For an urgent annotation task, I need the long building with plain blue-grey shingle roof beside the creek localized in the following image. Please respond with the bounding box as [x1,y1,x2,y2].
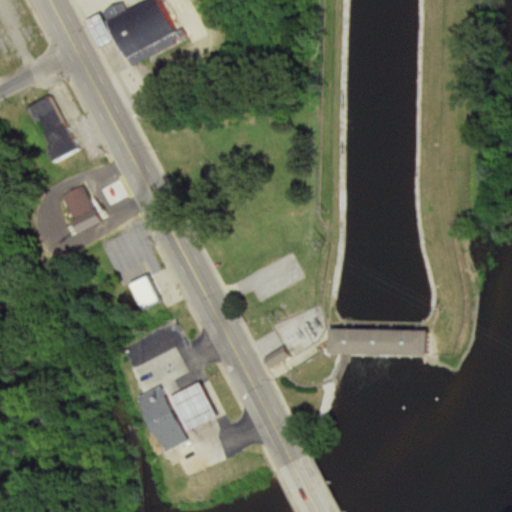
[139,386,188,450]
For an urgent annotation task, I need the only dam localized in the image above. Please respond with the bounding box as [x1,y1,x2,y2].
[324,321,440,383]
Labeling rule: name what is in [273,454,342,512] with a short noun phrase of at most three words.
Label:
bridge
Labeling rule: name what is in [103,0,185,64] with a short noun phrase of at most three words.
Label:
building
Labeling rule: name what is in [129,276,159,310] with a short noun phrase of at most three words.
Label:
building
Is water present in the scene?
Yes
